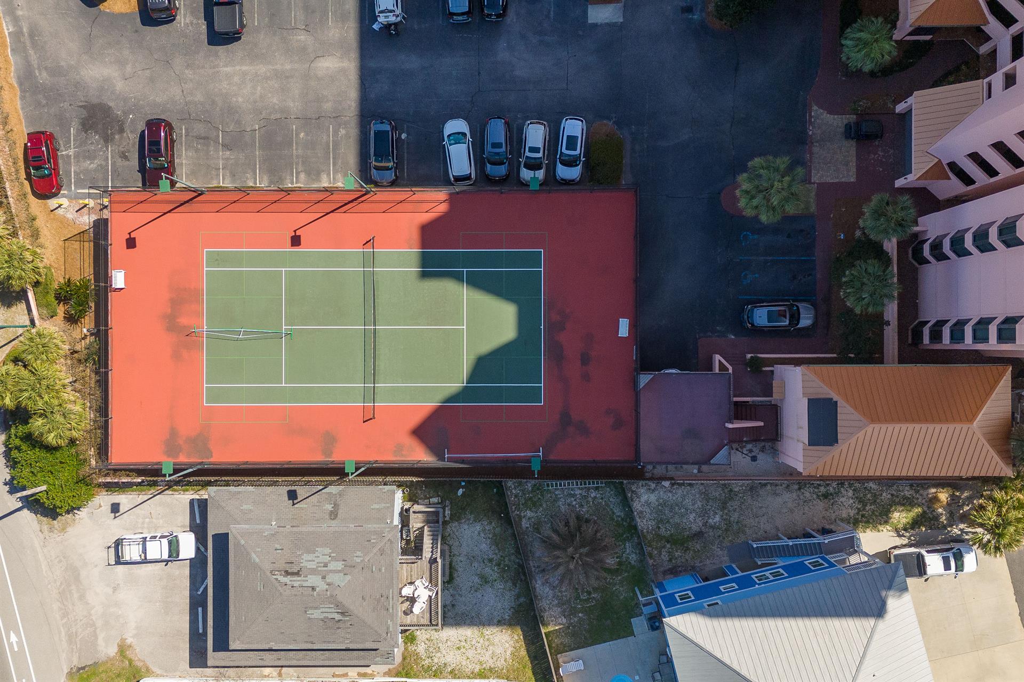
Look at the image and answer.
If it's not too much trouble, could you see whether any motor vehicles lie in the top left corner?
Yes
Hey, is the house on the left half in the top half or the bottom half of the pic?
bottom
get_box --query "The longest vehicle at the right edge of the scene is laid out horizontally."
[889,543,977,578]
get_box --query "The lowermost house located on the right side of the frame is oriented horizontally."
[651,548,931,682]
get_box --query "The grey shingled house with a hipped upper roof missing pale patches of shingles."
[208,483,405,667]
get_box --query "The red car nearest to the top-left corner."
[26,129,67,197]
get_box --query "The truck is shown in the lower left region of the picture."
[111,531,199,564]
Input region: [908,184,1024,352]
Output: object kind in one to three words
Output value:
building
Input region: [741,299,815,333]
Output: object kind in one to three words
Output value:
car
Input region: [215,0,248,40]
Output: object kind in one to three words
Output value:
truck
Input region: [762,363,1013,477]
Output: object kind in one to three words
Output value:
building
